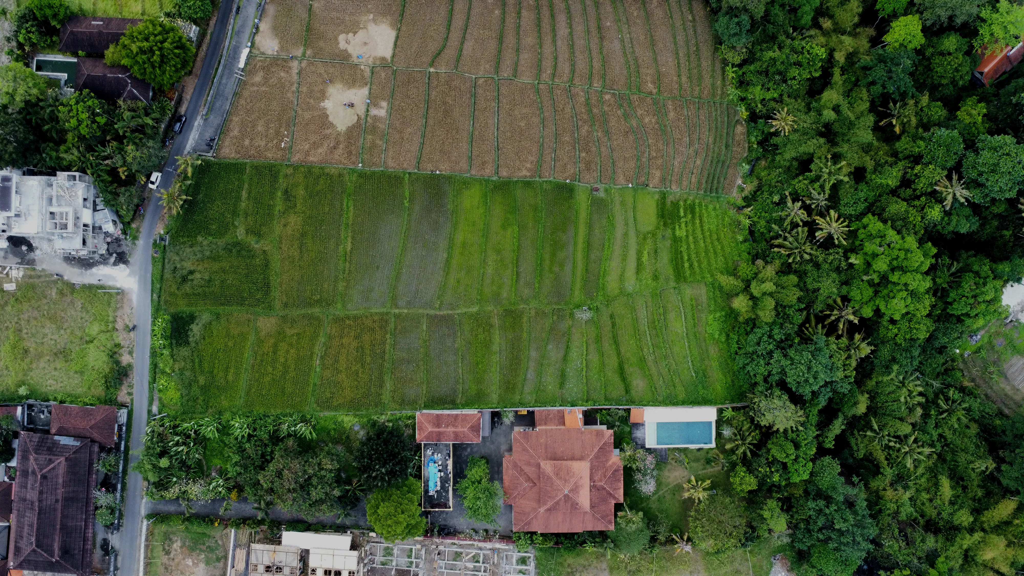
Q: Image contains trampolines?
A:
No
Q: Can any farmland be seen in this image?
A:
Yes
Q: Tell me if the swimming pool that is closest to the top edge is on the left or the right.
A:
left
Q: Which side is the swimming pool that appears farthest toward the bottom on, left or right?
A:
right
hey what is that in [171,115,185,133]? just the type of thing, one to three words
car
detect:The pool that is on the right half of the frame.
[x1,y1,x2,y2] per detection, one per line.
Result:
[645,420,716,448]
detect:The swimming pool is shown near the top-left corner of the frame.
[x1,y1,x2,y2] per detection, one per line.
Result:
[34,57,76,91]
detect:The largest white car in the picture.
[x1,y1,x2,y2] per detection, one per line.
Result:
[148,171,161,190]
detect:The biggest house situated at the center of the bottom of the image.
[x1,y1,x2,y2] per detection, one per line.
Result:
[503,423,624,532]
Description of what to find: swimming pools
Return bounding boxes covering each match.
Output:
[34,57,76,91]
[645,420,716,448]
